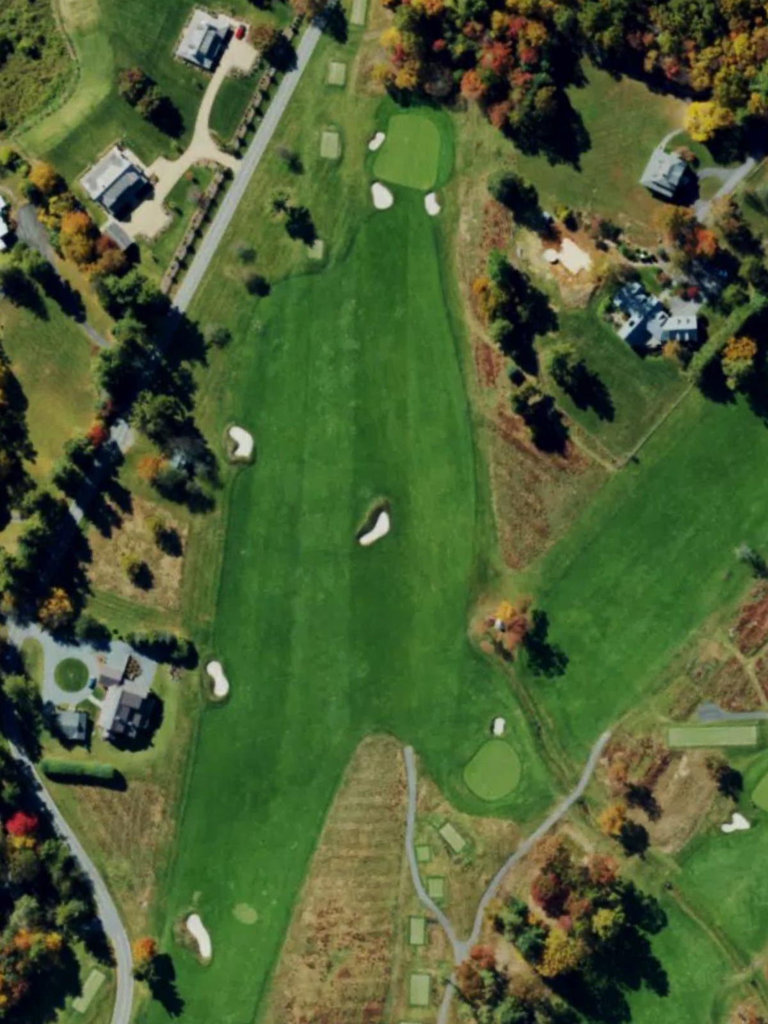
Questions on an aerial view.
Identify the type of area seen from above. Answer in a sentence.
The picture captures a golf course.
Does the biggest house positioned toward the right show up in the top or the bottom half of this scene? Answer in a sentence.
Seen from above, the biggest house positioned toward the right lies in the top half of the view.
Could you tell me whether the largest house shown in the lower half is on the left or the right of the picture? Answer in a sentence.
The largest house shown in the lower half appears in the left half of the scene.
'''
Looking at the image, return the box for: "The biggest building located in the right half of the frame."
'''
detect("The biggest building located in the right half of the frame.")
[612,283,698,348]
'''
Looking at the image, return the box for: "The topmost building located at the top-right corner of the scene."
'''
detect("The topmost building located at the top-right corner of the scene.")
[642,148,684,198]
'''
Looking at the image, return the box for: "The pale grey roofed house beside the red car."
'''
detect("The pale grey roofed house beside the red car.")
[177,11,230,70]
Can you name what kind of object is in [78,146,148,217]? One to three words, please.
house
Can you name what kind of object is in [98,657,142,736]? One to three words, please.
house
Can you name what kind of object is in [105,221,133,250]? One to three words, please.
building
